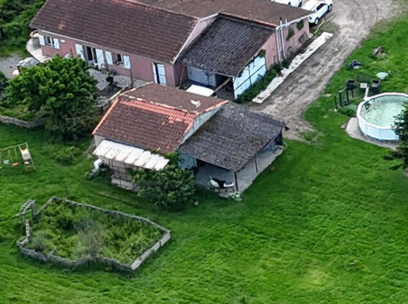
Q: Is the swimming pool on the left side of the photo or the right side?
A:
right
